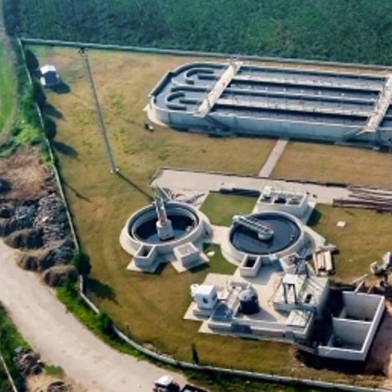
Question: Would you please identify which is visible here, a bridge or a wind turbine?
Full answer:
Looking from above, you can make out a bridge.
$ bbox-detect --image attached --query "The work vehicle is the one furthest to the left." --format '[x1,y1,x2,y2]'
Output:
[151,373,182,392]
